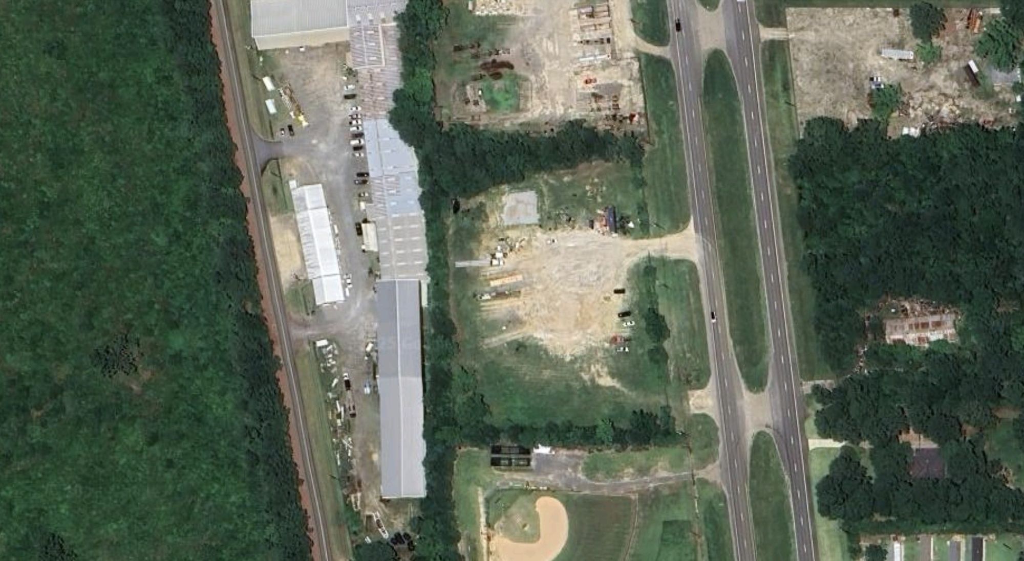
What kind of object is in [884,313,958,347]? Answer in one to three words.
barn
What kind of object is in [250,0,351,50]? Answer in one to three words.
building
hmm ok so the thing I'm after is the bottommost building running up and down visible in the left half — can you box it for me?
[376,280,427,498]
